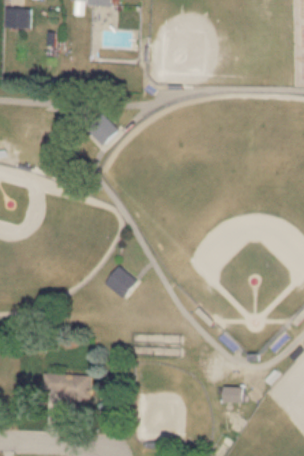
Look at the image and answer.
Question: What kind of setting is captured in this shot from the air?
sports ground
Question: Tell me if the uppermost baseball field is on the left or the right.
right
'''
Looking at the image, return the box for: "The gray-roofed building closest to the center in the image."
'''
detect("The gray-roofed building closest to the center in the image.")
[104,264,138,298]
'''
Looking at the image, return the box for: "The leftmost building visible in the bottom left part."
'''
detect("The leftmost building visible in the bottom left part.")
[43,374,94,402]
